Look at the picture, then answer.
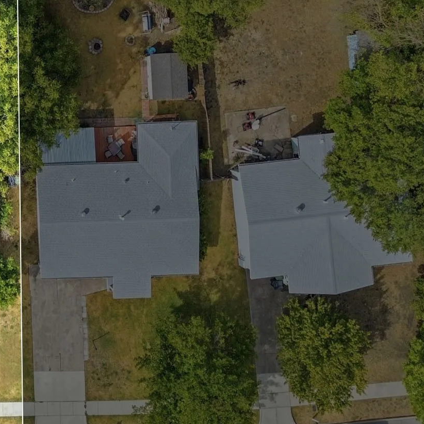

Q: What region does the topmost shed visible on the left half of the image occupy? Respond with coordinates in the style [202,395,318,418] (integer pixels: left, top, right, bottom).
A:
[143,52,190,101]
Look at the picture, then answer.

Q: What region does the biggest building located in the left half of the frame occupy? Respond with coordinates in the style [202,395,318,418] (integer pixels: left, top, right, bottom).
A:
[35,120,201,299]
